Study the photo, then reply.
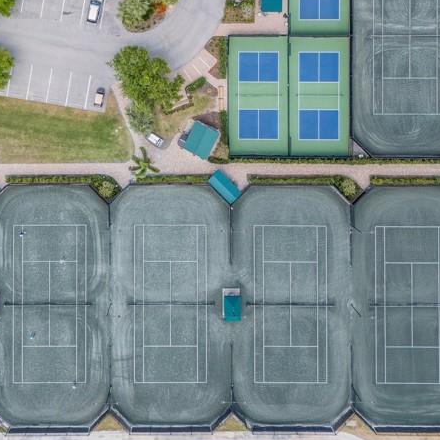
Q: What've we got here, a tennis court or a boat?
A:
tennis court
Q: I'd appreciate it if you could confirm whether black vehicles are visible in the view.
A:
No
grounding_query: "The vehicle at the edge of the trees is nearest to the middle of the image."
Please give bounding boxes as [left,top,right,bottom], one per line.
[143,130,166,150]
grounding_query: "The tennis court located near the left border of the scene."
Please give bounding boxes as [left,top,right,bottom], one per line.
[0,186,110,427]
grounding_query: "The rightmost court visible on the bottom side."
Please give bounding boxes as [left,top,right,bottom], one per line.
[351,187,440,427]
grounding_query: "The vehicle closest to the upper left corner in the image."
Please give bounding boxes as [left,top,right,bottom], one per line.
[86,0,102,23]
